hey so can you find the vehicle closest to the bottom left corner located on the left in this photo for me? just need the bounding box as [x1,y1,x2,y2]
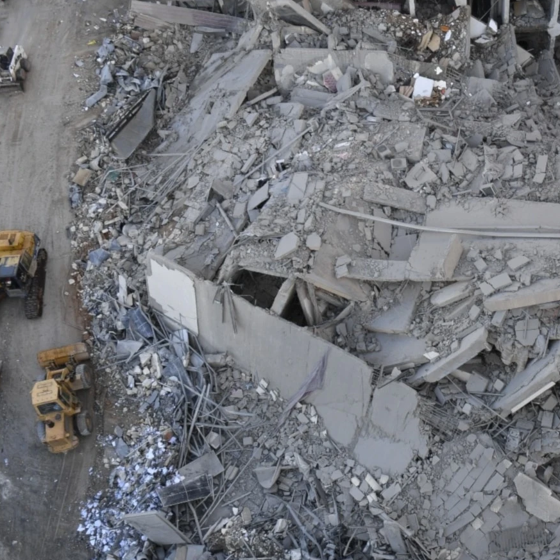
[28,331,96,461]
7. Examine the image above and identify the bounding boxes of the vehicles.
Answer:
[0,227,53,331]
[28,331,96,461]
[0,47,27,100]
